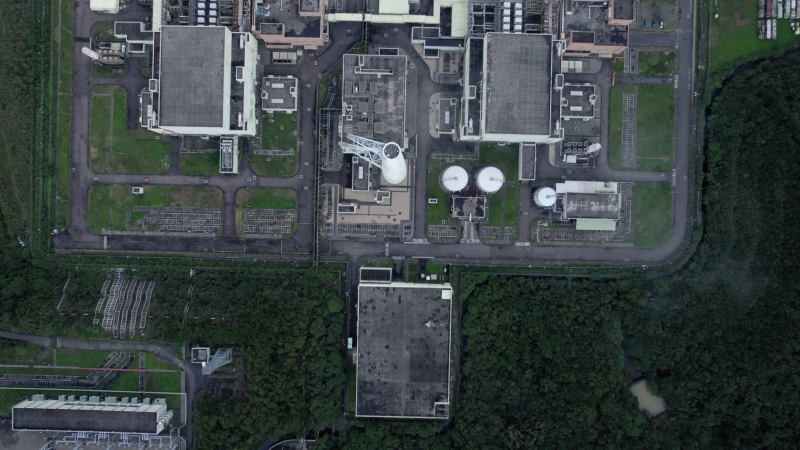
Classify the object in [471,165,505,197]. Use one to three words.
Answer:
storage tank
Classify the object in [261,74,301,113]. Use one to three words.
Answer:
building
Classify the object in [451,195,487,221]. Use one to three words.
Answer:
building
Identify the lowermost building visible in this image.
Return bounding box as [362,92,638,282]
[12,400,167,433]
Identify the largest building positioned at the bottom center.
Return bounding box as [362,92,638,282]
[353,283,452,418]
